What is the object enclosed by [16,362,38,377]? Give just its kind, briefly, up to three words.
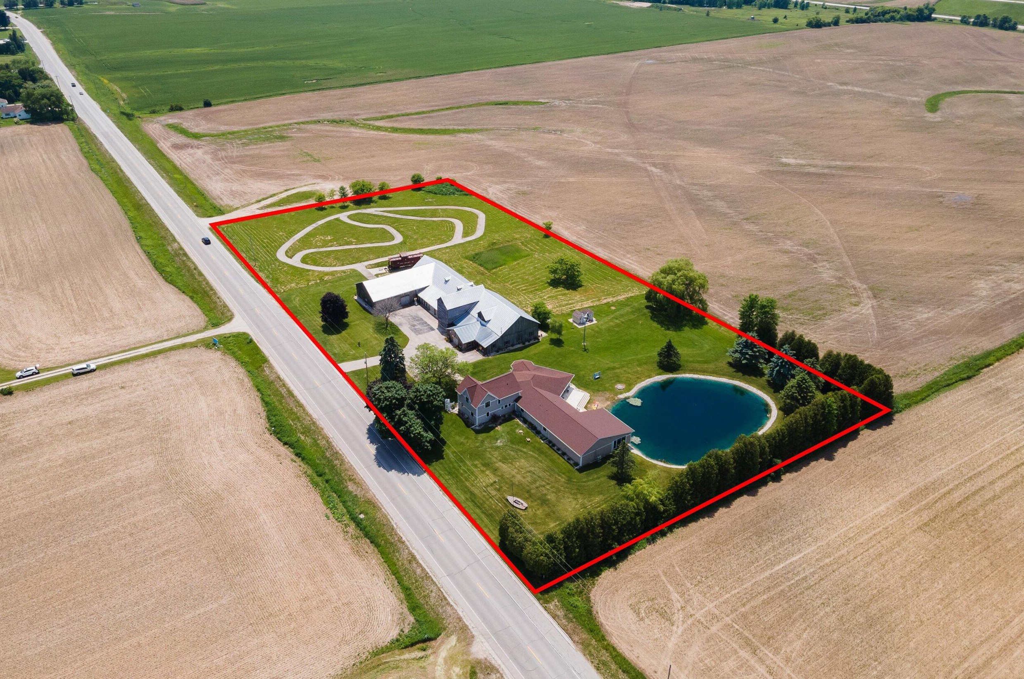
car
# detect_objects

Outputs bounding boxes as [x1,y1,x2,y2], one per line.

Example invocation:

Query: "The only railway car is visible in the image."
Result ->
[387,251,420,269]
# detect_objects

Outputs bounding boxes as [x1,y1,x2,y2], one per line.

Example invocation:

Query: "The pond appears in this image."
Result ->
[608,377,771,465]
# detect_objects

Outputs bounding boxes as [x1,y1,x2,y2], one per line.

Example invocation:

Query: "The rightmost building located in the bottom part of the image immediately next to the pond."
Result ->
[454,359,634,469]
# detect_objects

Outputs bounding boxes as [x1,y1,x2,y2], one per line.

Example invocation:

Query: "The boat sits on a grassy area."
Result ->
[509,496,529,512]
